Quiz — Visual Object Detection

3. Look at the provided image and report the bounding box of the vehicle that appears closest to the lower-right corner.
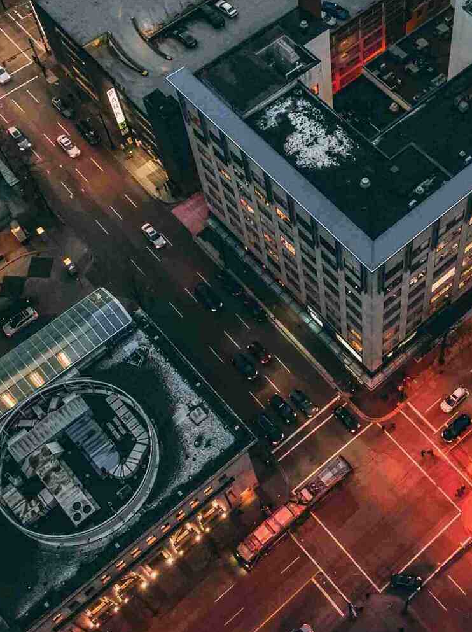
[387,571,425,593]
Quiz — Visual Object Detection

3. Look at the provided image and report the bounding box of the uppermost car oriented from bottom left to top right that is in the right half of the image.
[438,386,472,416]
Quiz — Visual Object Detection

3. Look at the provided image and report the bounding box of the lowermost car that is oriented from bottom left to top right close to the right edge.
[439,412,472,445]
